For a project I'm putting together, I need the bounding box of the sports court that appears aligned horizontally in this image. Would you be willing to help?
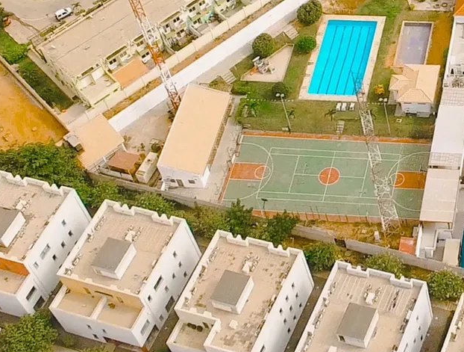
[222,134,434,216]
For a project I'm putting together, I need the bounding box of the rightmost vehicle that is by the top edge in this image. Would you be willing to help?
[49,7,77,22]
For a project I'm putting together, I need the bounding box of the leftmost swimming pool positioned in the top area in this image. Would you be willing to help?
[304,17,380,97]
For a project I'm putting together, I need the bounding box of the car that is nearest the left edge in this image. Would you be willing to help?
[0,15,17,30]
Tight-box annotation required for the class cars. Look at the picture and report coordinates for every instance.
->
[49,7,77,22]
[0,15,17,30]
